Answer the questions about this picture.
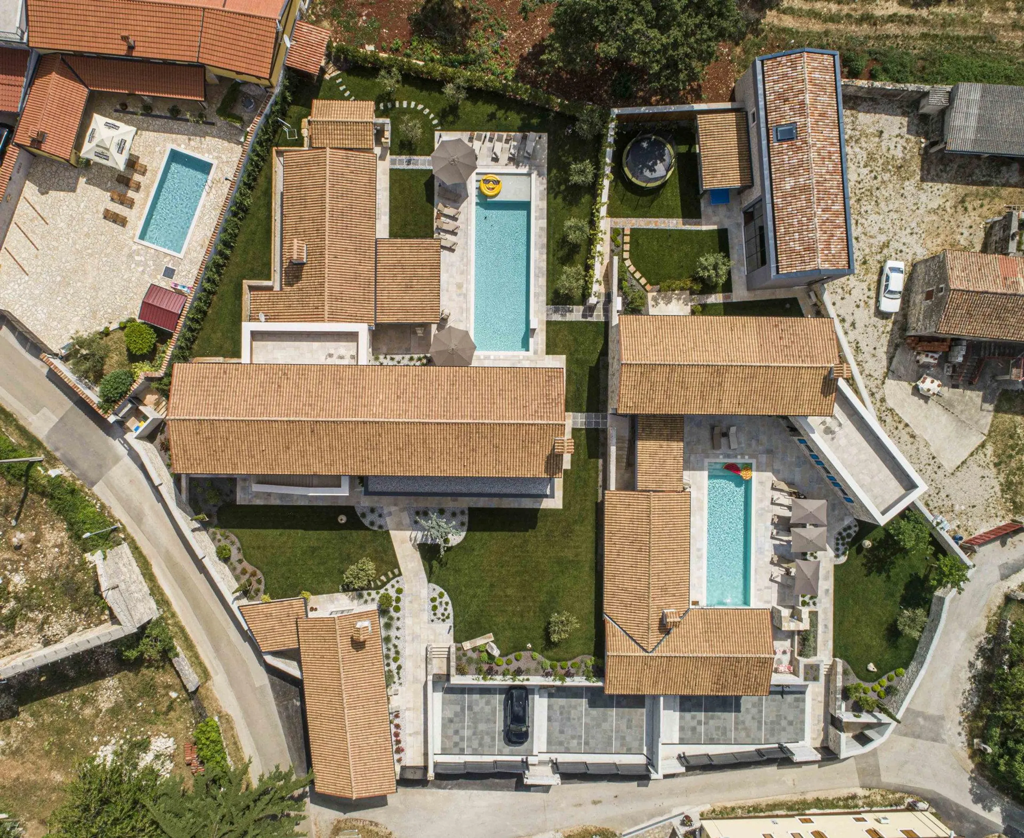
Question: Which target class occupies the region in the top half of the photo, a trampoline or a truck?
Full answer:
The one visible in the top half of the photo is a trampoline.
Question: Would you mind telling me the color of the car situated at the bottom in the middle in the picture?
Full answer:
The car situated at the bottom in the middle is black.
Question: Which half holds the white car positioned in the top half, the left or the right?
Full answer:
The white car positioned in the top half is on the right side of the image.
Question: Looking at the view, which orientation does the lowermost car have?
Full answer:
From this overhead view, the lowermost car appears to run vertically.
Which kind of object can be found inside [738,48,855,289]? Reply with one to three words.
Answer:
house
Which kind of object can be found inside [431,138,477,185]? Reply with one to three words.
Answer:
umbrella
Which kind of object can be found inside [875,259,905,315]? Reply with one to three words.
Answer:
car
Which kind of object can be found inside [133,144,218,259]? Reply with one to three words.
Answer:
swimming pool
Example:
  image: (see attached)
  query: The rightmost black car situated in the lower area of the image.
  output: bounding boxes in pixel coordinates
[504,684,531,744]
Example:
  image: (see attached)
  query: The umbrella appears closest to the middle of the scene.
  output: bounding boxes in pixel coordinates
[430,326,476,367]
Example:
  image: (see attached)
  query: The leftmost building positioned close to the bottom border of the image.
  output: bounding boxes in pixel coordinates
[296,604,401,799]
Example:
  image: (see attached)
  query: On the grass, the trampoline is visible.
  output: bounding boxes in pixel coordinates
[623,130,678,188]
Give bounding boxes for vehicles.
[0,118,18,170]
[504,684,531,744]
[875,259,905,315]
